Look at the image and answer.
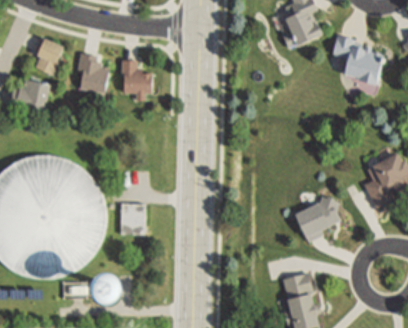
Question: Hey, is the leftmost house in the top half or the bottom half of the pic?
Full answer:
The top half of the photo is where the leftmost house is.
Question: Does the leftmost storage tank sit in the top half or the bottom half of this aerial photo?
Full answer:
The bottom half of the photo is where the leftmost storage tank is.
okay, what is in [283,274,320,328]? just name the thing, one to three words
house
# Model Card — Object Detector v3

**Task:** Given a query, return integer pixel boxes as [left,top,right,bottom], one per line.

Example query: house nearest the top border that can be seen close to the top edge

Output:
[286,0,325,46]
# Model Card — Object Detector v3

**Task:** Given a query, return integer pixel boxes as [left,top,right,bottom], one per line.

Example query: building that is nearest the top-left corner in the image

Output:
[38,38,68,75]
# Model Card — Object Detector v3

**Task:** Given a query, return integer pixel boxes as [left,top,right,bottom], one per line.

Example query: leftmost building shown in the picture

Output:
[20,77,50,108]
